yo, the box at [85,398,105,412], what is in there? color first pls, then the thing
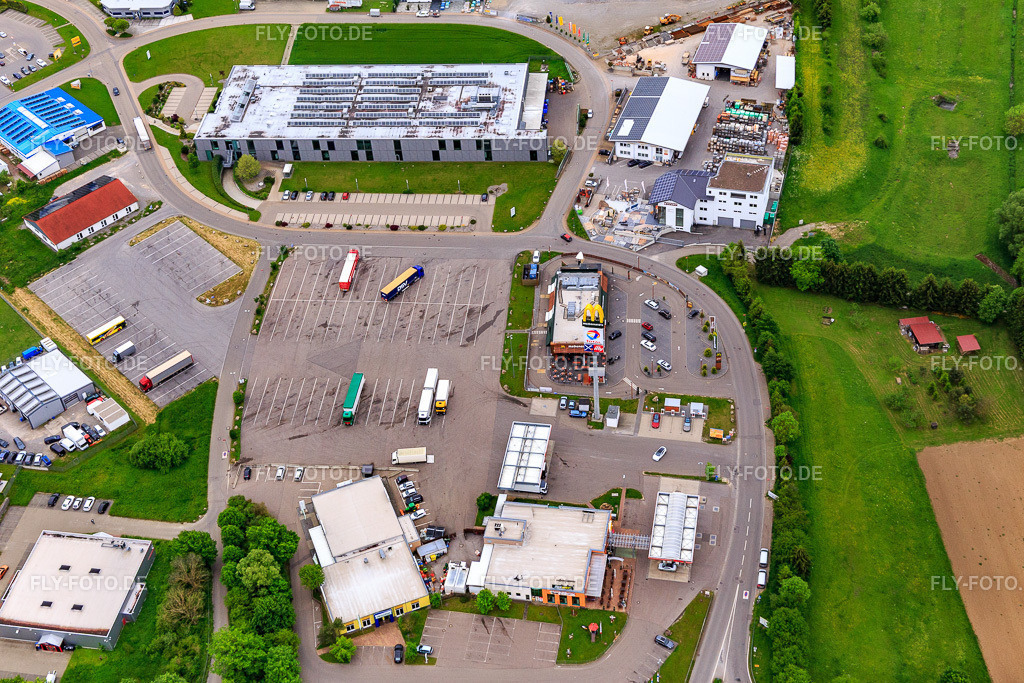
white vehicle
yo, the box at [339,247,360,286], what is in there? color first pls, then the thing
white truck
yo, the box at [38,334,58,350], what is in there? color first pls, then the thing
white camper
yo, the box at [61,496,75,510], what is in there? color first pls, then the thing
white car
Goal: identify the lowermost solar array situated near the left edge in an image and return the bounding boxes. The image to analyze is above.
[33,177,112,216]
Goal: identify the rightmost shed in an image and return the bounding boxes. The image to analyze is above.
[957,334,980,358]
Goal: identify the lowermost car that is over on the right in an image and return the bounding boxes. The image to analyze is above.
[654,635,674,649]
